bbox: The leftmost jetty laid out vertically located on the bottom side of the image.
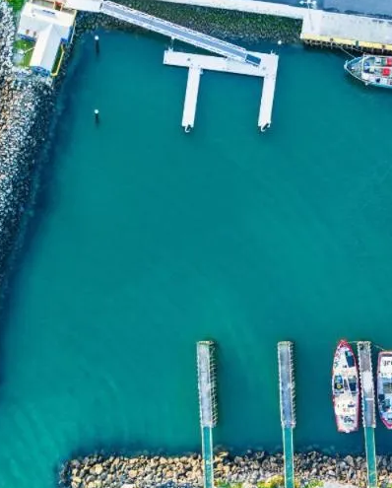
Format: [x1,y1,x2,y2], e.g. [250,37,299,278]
[197,339,224,488]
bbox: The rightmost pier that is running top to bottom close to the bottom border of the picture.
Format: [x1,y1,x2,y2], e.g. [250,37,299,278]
[357,340,379,488]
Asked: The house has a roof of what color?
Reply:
white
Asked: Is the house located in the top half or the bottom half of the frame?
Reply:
top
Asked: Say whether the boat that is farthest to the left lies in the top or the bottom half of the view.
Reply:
bottom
